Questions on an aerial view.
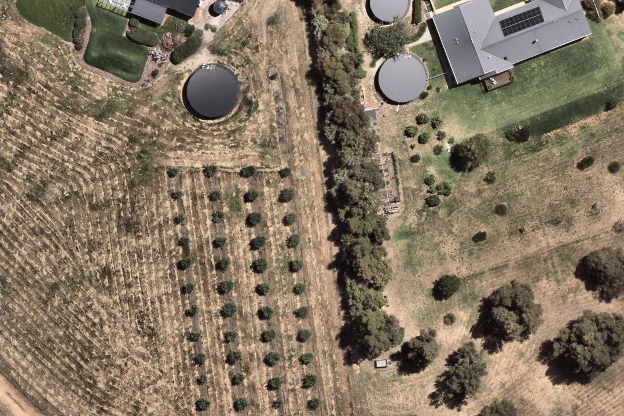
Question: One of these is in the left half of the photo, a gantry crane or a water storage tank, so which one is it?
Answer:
water storage tank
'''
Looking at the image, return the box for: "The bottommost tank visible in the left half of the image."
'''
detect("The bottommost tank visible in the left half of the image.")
[184,63,241,119]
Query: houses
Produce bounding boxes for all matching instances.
[130,0,199,24]
[433,0,594,84]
